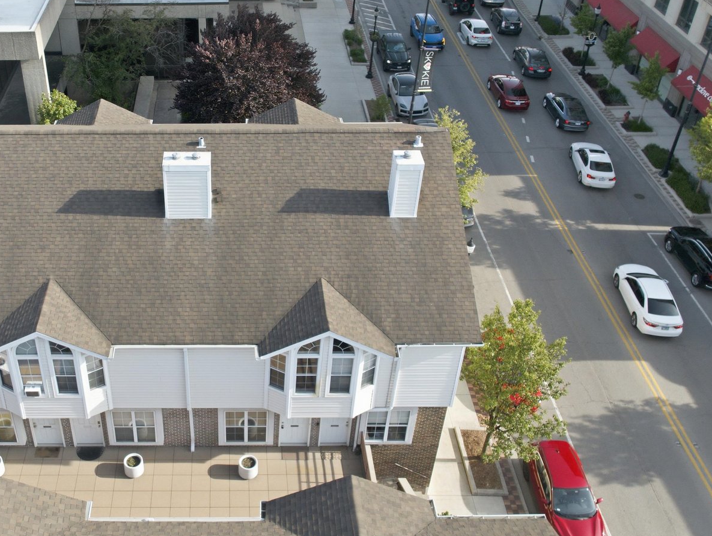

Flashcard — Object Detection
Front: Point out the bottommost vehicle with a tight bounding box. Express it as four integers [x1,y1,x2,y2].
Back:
[519,439,607,536]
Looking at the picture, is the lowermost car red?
Yes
